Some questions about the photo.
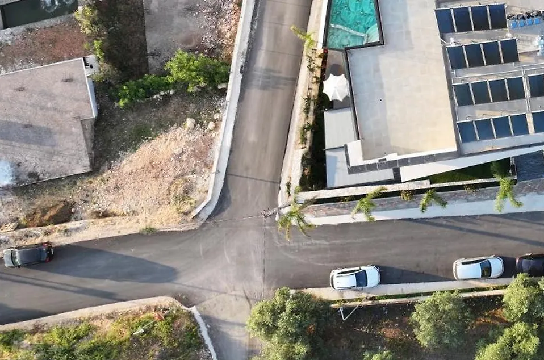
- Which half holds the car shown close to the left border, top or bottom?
bottom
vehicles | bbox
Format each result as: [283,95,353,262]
[4,242,55,269]
[516,251,544,275]
[330,263,381,291]
[454,255,504,281]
